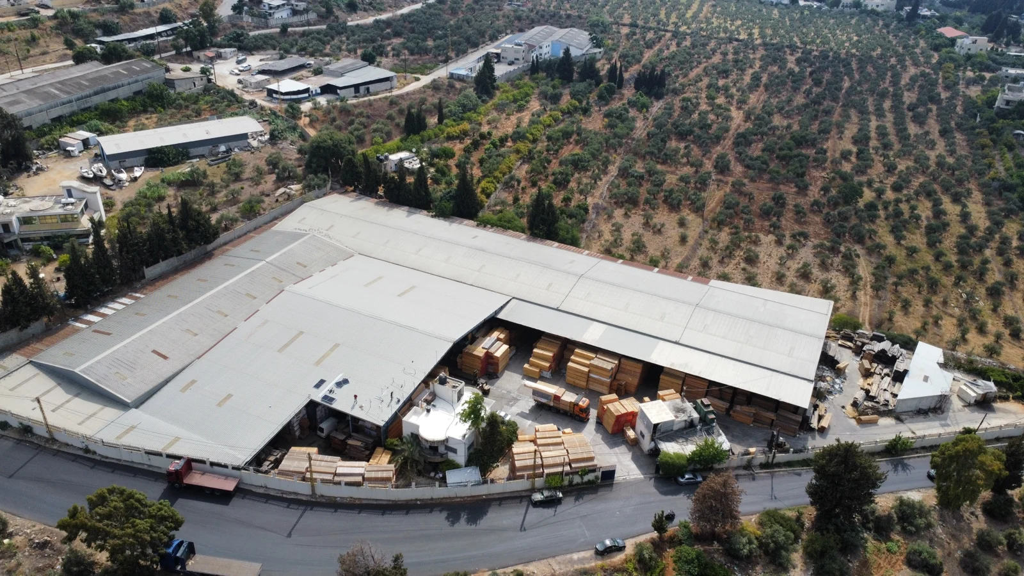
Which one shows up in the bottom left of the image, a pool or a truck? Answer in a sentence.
The one visible in the bottom left of the image is a truck.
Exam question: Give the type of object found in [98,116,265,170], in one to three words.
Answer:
shed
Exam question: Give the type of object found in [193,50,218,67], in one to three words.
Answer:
house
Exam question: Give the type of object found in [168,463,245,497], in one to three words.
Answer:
truck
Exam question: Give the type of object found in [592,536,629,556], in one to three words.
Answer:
car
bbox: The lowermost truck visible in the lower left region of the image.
[164,542,261,576]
